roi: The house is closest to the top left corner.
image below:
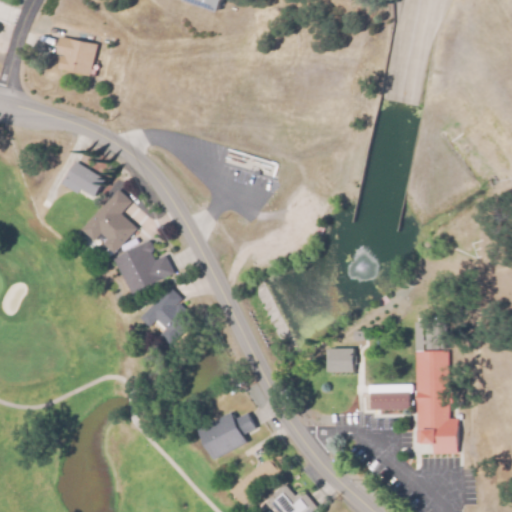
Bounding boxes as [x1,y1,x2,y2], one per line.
[60,38,99,77]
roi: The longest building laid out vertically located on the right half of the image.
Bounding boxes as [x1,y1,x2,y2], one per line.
[416,351,462,456]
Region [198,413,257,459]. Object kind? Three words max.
house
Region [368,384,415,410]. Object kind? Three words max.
building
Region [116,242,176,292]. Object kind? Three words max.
house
